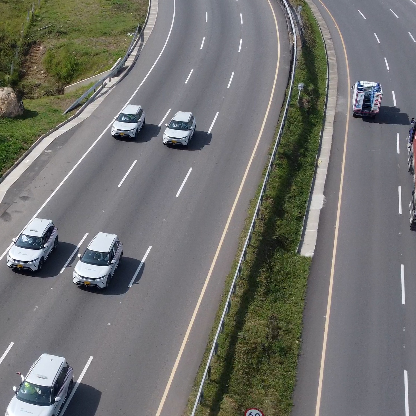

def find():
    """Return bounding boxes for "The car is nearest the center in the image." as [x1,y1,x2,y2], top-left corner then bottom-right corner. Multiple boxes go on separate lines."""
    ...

[166,106,199,143]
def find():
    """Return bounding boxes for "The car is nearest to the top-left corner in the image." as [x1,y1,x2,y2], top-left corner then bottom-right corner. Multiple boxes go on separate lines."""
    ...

[113,101,148,136]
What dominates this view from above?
paved ground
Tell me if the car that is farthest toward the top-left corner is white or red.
white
